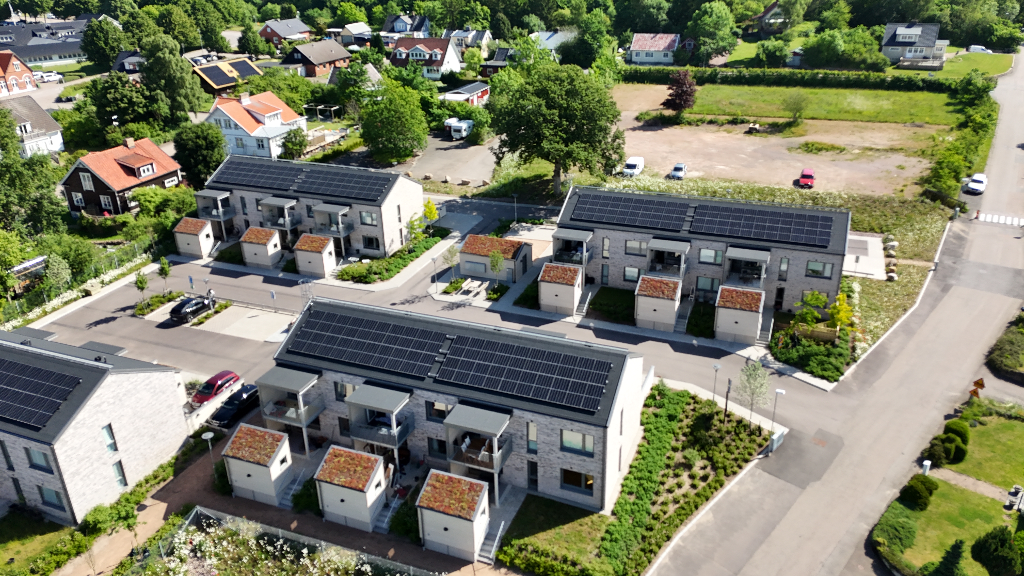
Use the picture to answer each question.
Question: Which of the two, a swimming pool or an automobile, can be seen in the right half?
automobile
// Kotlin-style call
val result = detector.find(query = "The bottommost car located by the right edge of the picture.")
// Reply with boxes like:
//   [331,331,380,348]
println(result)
[966,173,991,193]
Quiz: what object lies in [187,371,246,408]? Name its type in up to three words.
car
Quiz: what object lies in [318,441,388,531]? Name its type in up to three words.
shed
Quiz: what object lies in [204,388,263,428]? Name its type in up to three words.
car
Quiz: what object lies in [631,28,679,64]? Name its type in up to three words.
house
